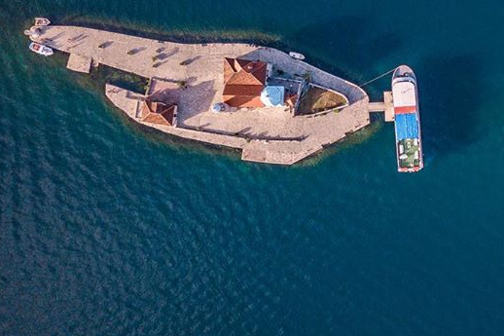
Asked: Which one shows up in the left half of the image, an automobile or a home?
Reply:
home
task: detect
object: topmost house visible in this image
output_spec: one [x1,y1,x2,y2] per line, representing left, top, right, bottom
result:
[224,59,270,85]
